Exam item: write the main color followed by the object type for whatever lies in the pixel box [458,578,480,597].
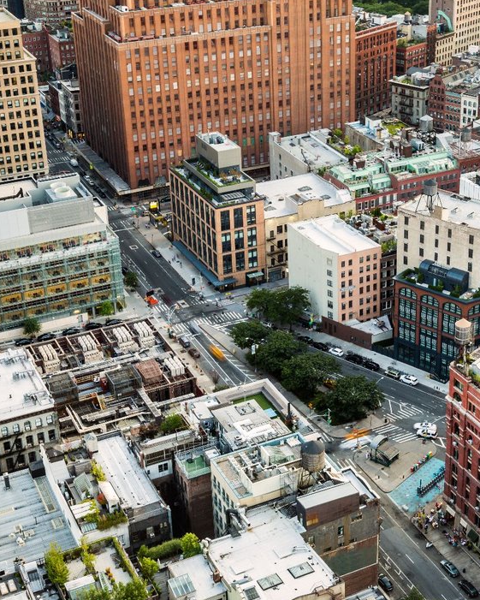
black car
